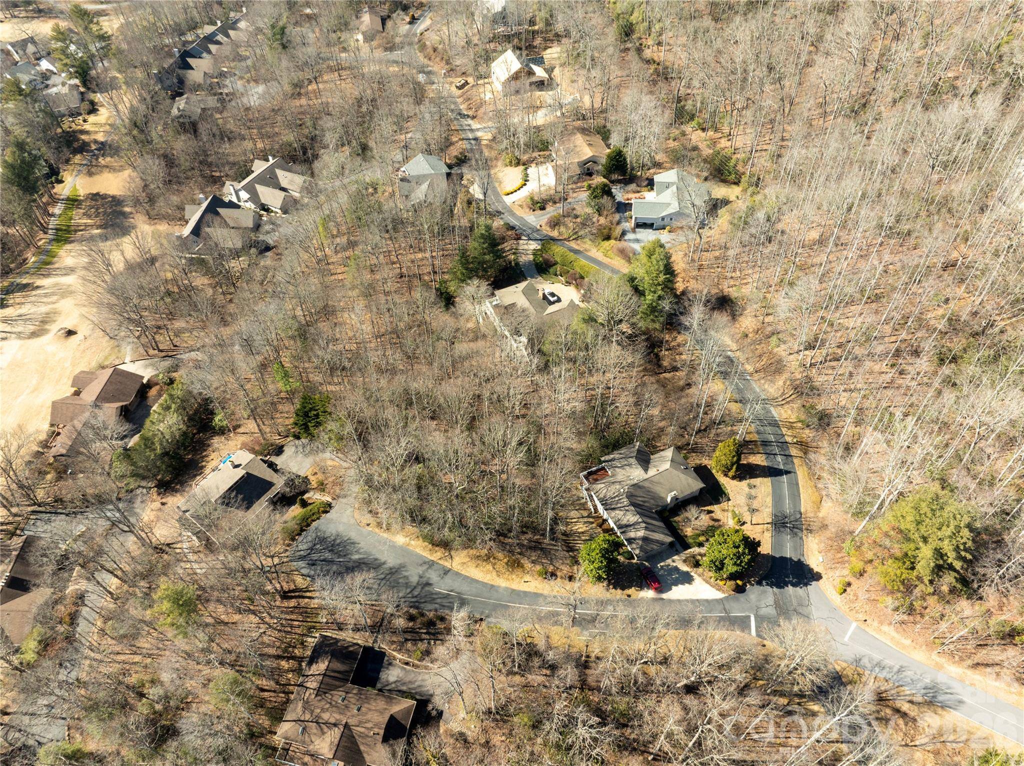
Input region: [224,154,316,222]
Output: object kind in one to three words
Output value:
house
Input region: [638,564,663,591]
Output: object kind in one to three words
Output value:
car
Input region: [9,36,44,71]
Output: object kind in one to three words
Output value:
house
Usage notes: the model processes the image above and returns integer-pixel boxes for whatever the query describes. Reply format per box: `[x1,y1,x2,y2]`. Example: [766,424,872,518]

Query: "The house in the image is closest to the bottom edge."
[271,634,416,766]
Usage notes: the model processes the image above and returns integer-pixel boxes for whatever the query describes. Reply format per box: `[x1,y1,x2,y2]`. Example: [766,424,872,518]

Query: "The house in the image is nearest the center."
[475,280,577,366]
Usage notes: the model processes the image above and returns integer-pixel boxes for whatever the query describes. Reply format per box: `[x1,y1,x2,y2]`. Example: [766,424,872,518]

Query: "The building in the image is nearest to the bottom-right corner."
[579,442,705,567]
